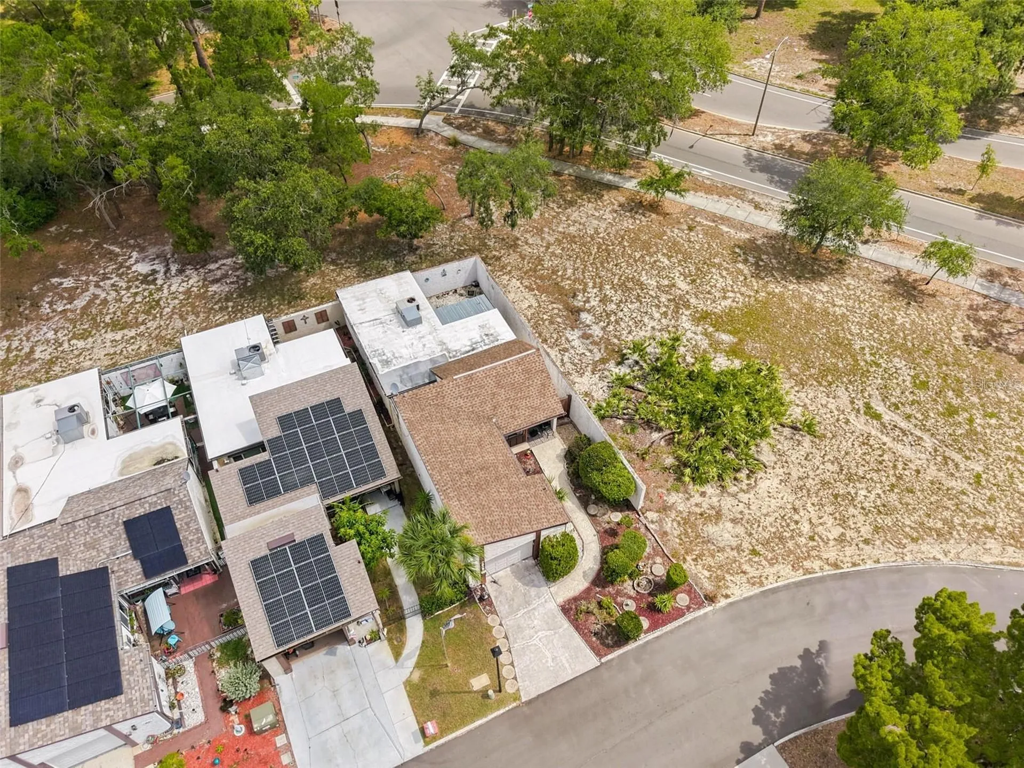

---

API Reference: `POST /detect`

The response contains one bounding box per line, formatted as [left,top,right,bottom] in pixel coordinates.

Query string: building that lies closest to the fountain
[338,257,570,583]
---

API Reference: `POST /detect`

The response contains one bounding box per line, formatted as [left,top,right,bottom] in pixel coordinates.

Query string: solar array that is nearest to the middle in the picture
[240,407,391,512]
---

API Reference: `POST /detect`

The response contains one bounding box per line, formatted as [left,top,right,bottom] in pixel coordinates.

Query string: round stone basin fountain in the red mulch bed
[633,573,656,596]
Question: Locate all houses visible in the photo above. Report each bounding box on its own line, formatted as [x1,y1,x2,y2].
[338,257,570,583]
[0,368,230,768]
[180,313,402,675]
